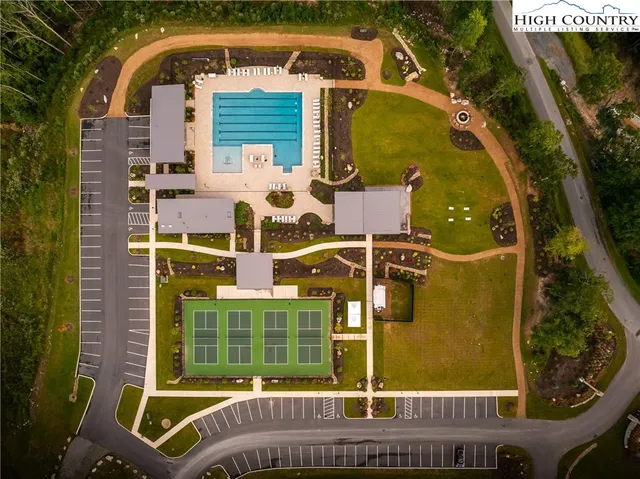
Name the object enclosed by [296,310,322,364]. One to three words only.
sports court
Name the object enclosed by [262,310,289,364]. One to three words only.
sports court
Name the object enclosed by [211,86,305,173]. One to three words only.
swimming pool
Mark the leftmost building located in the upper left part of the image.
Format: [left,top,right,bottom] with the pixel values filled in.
[151,84,187,164]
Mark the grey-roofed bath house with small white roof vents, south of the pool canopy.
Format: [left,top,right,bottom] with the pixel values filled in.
[157,198,236,233]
